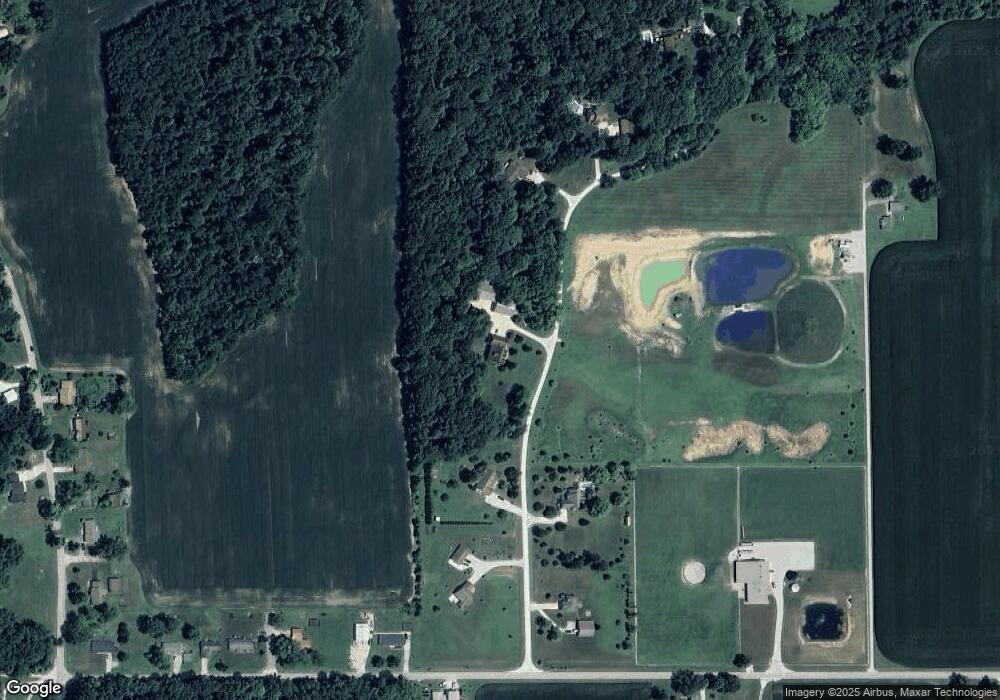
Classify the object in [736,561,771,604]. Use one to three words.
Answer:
building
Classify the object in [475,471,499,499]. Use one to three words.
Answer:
house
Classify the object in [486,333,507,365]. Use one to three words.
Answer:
house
